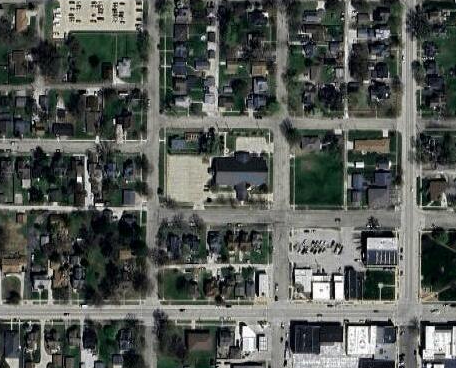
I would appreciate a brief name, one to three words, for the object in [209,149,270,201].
building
